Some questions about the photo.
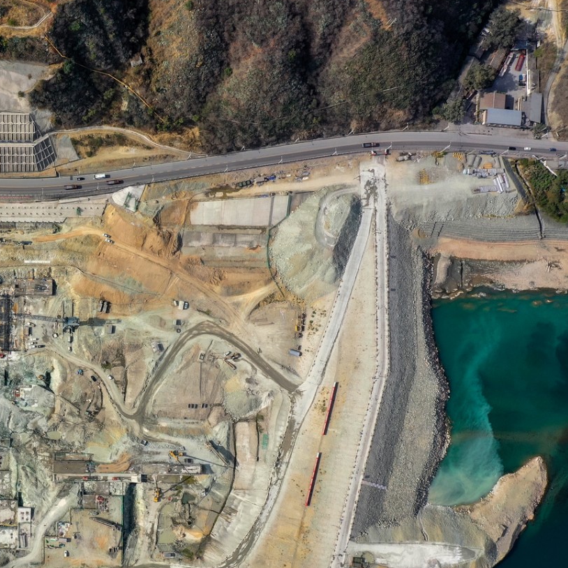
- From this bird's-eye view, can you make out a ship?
No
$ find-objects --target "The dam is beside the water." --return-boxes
[252,154,451,568]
